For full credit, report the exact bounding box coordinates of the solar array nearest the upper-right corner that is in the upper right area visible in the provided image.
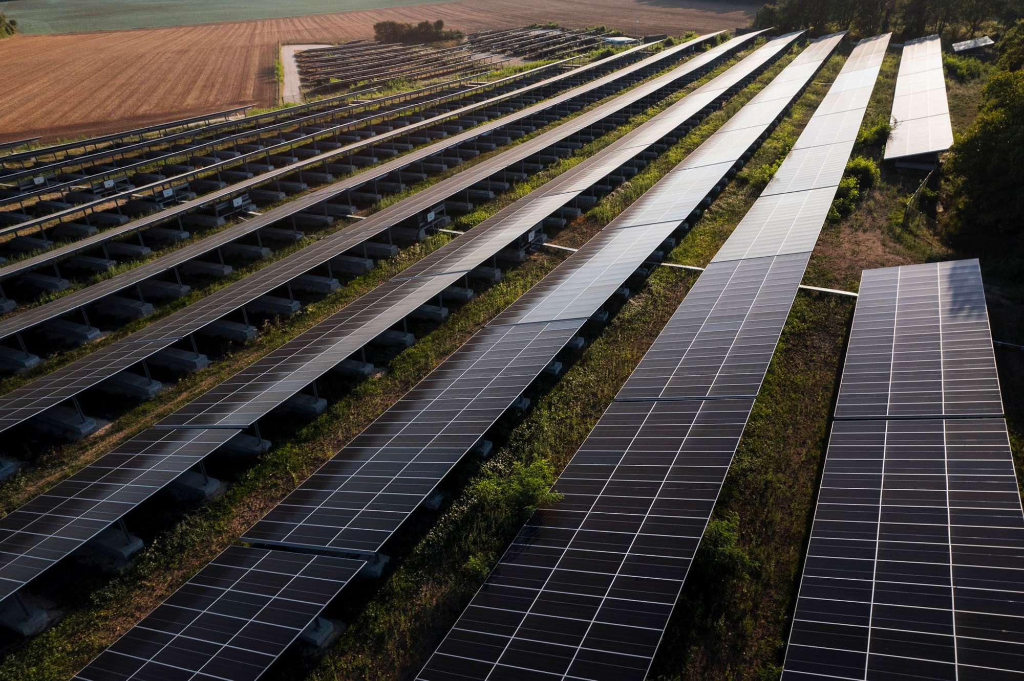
[956,40,996,57]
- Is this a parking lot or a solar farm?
solar farm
